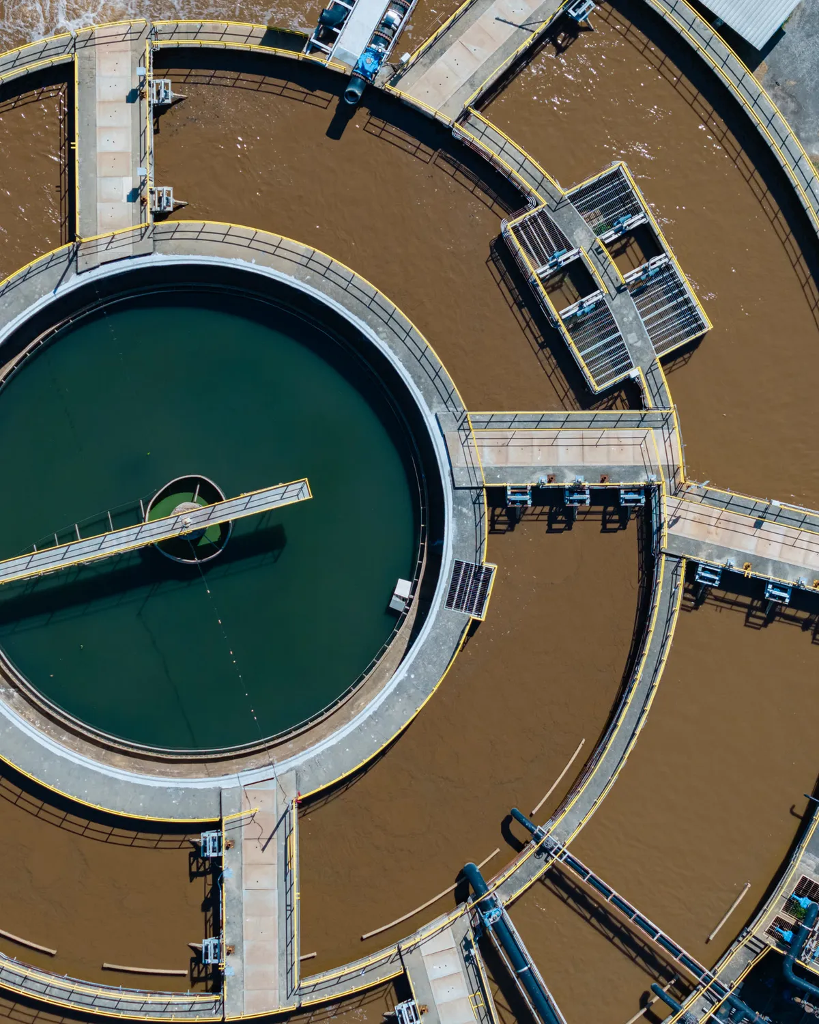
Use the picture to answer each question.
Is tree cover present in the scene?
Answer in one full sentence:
No, there's no tree cover in this view.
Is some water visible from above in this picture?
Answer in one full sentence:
Yes, there's water in this view.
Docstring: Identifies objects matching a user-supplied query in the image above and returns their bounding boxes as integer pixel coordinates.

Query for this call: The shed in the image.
[686,0,800,53]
